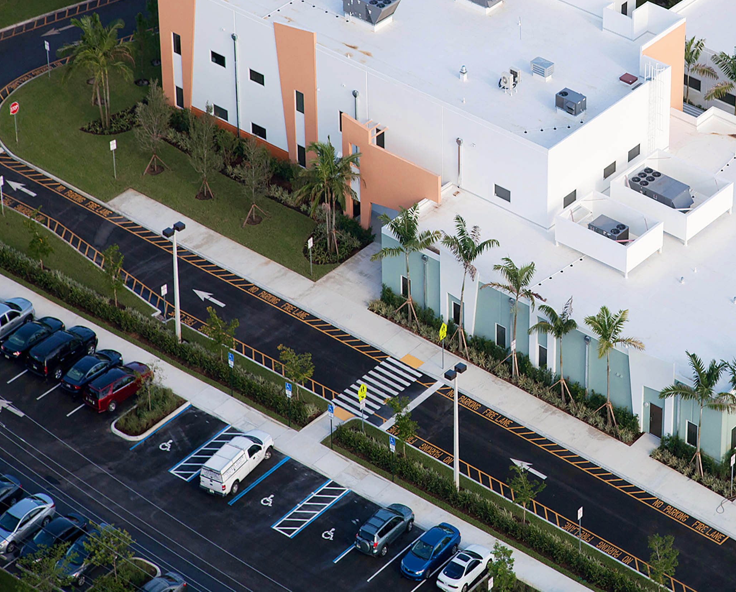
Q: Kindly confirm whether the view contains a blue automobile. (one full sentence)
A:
Yes, this view includes a blue automobile.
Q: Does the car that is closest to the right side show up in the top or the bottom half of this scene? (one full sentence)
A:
The bottom half of the photo is where the car that is closest to the right side is.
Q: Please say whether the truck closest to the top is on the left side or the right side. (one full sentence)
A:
It is on the left.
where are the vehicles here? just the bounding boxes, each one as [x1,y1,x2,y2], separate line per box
[28,507,95,564]
[54,349,127,400]
[190,429,279,495]
[430,541,500,592]
[127,563,190,592]
[0,474,19,505]
[22,326,102,382]
[83,363,158,415]
[394,525,465,582]
[0,314,65,364]
[0,496,59,554]
[349,505,420,558]
[0,295,37,335]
